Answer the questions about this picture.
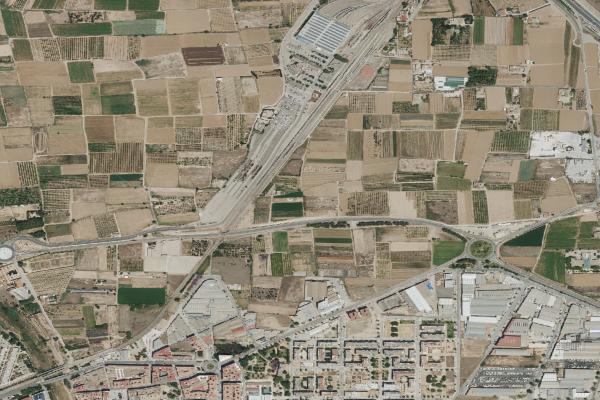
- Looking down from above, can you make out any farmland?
Yes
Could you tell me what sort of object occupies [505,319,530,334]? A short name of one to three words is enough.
building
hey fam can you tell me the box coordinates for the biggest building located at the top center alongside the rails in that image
[295,11,351,52]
